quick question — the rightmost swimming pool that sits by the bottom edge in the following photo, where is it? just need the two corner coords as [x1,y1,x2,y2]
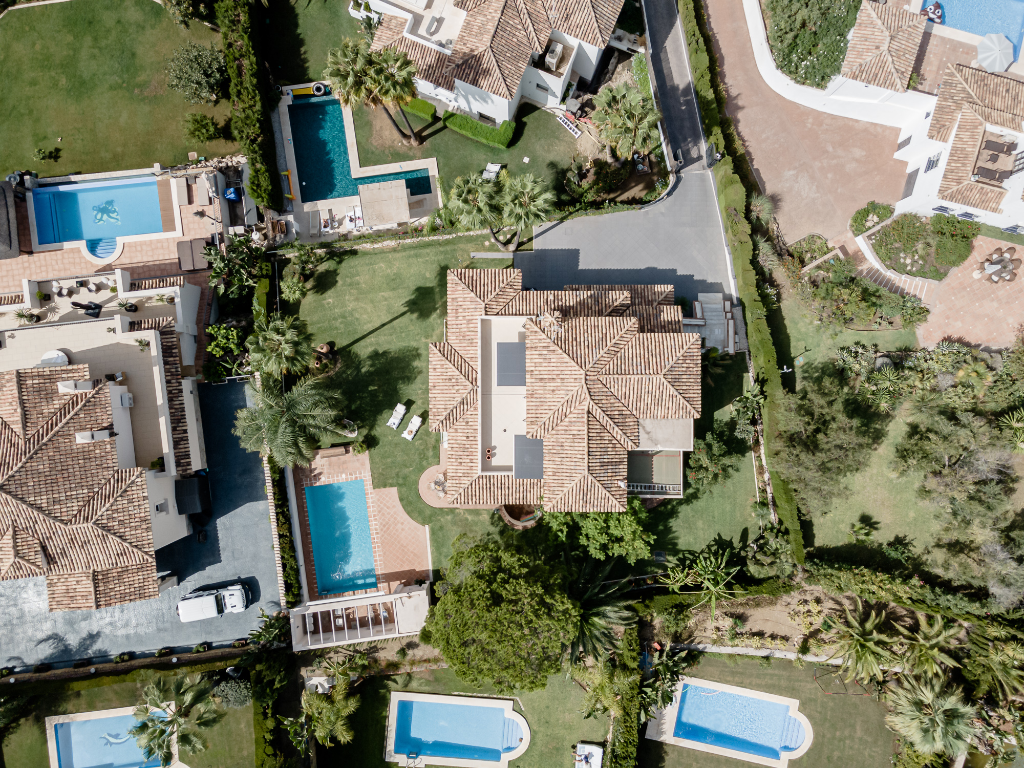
[646,675,813,768]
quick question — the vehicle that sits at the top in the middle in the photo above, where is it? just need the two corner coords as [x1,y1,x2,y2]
[562,93,593,122]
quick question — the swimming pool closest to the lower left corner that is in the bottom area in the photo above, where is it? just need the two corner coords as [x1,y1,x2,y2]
[45,706,190,768]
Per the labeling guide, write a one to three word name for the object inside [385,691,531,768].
swimming pool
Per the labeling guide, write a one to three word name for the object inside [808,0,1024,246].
house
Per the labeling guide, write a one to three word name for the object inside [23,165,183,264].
swimming pool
